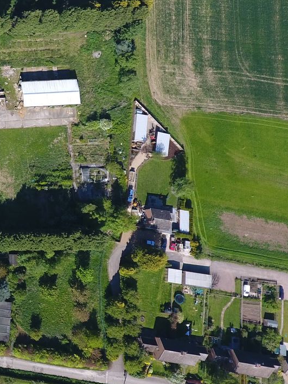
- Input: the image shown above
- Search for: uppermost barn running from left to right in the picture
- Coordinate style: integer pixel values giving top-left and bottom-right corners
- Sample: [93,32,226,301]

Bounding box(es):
[18,79,82,109]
